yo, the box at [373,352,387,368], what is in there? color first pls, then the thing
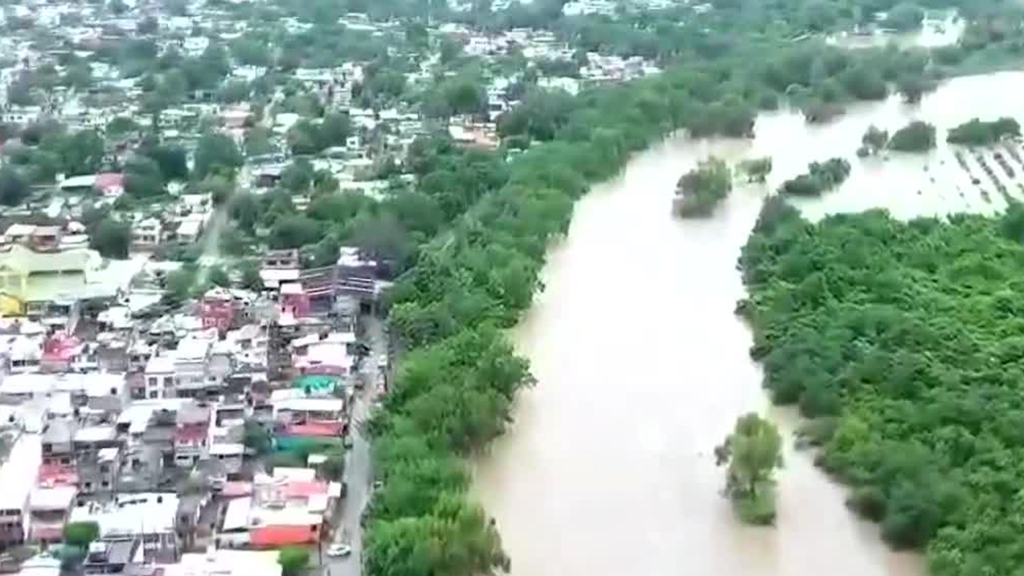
white vehicle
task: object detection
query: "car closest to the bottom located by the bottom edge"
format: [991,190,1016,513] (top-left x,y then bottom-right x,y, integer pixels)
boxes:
[325,542,351,556]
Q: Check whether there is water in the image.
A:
Yes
